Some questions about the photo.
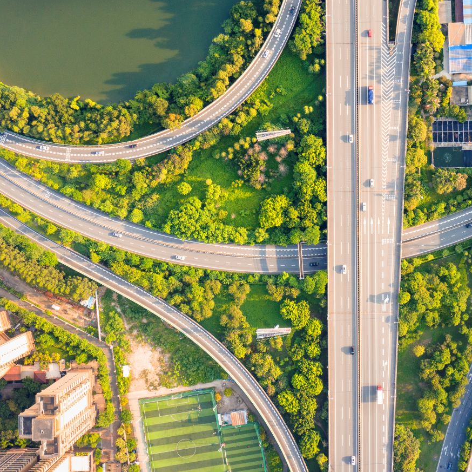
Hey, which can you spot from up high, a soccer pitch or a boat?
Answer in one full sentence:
Looking from above, you can make out a soccer pitch.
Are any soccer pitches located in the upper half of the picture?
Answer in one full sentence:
No, I see no soccer pitch in the upper half of the picture.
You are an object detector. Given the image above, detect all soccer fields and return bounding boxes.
[143,391,226,472]
[222,424,265,472]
